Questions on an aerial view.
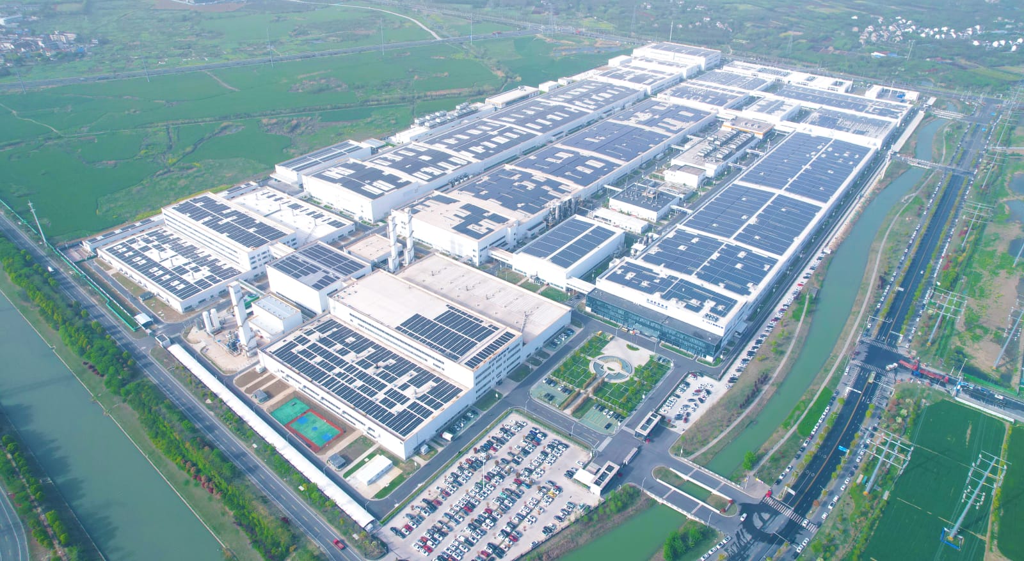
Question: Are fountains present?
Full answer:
Yes, there is a fountain in the image.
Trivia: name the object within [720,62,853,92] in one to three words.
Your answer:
building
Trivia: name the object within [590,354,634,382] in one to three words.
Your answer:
fountain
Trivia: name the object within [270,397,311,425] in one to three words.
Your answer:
sports court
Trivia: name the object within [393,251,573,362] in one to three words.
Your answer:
building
